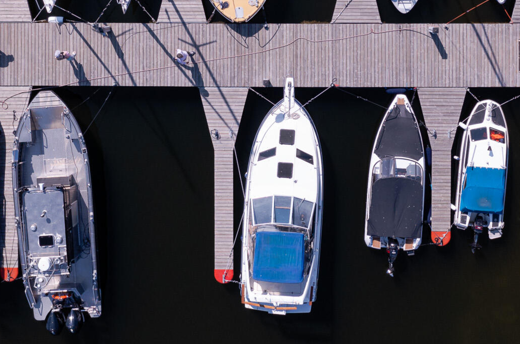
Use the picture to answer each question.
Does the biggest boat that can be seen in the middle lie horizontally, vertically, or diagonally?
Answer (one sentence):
The biggest boat that can be seen in the middle has been laid out vertically relative to the frame.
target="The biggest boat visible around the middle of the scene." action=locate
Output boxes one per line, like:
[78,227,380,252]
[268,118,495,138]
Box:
[238,74,325,314]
